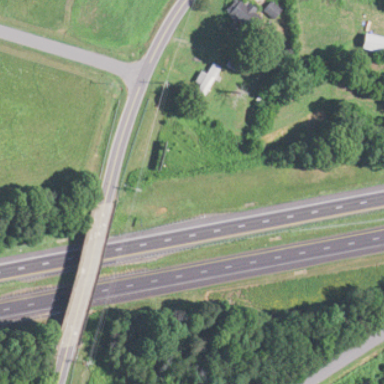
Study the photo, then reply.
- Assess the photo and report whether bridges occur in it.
Yes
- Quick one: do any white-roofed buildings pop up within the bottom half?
No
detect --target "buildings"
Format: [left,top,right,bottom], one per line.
[364,34,384,52]
[222,0,260,24]
[196,65,220,94]
[264,1,282,20]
